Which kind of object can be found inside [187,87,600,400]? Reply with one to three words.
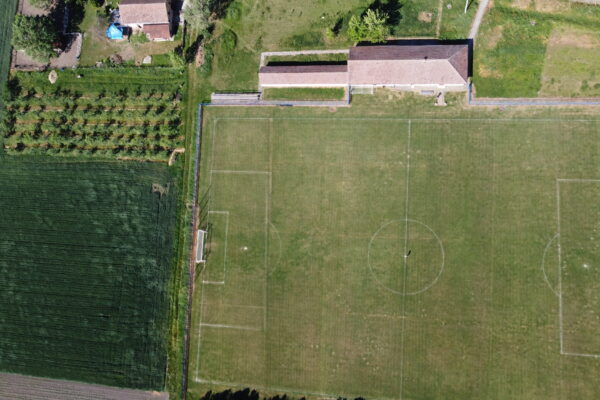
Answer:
soccer field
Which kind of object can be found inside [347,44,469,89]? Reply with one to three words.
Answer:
building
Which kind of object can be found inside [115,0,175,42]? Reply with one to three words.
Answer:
house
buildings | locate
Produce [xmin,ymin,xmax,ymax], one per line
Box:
[115,0,175,42]
[347,44,469,89]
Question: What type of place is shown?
sports ground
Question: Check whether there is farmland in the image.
Yes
